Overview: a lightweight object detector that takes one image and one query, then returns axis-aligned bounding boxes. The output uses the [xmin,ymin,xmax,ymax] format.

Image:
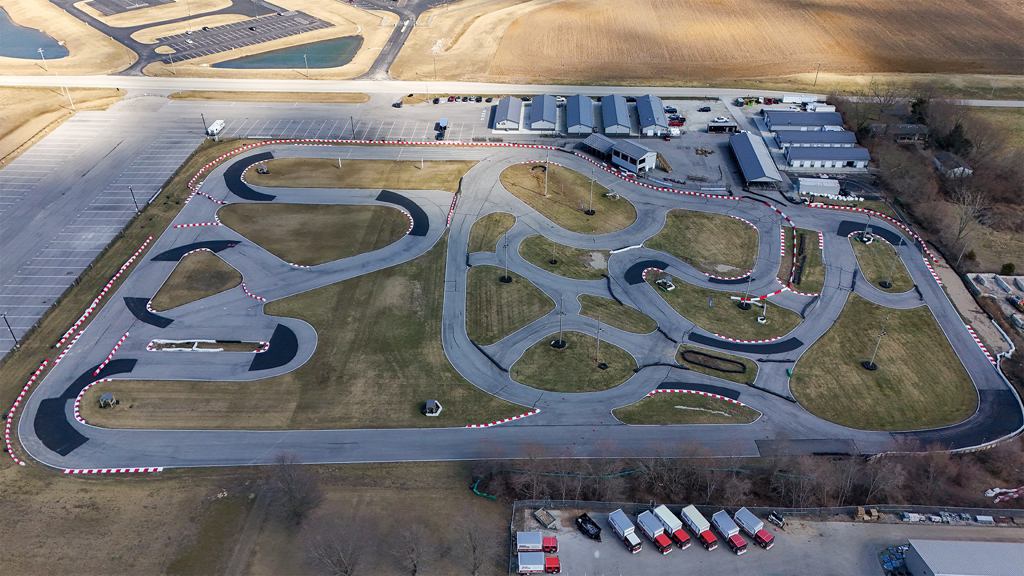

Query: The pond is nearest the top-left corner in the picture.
[0,7,69,59]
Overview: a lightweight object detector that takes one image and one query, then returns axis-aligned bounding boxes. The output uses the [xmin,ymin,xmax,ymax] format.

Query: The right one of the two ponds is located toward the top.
[210,35,363,69]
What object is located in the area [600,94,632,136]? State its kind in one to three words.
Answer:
building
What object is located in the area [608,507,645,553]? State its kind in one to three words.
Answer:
truck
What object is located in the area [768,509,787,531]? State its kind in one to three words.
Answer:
work vehicle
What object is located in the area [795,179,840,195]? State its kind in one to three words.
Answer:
shed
